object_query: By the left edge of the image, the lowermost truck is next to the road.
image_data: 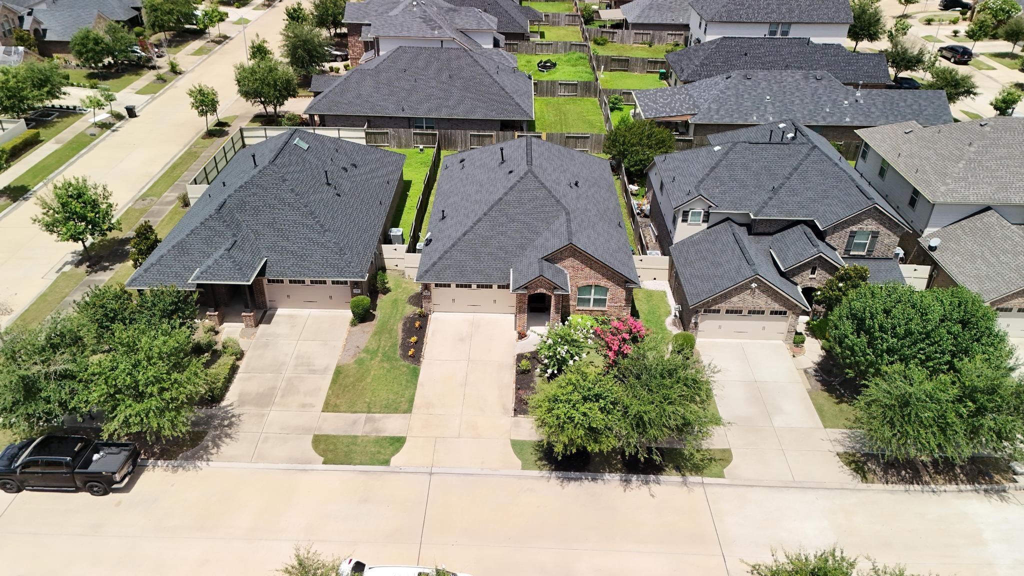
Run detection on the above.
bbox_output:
[0,440,140,501]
